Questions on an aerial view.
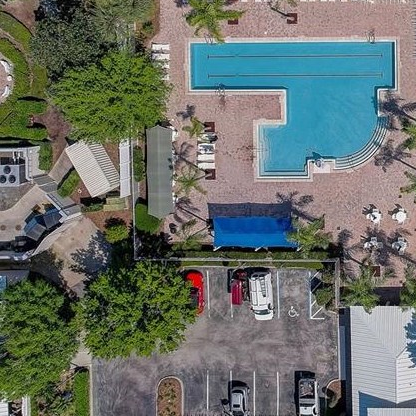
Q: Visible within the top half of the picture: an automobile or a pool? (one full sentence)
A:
There is a pool within the top half of the picture.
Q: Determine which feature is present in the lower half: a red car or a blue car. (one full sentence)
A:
Looking in the lower half, you will find a red car.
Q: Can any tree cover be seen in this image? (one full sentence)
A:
Yes, the picture does contain tree cover.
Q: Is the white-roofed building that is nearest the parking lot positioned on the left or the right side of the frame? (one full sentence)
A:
The white-roofed building that is nearest the parking lot appears in the right half of the scene.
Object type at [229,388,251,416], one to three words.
car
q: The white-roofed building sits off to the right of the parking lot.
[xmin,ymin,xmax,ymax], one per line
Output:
[350,303,416,416]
